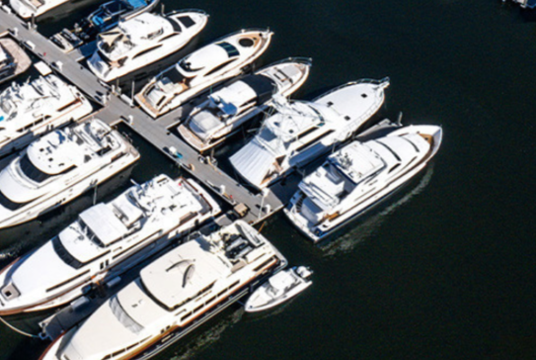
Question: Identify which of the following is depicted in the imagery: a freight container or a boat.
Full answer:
There is a boat in the scene.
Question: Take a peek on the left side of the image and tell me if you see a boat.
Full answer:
Yes, you'll find a boat on the left side of the image.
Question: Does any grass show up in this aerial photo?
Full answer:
No, no grass is visible.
